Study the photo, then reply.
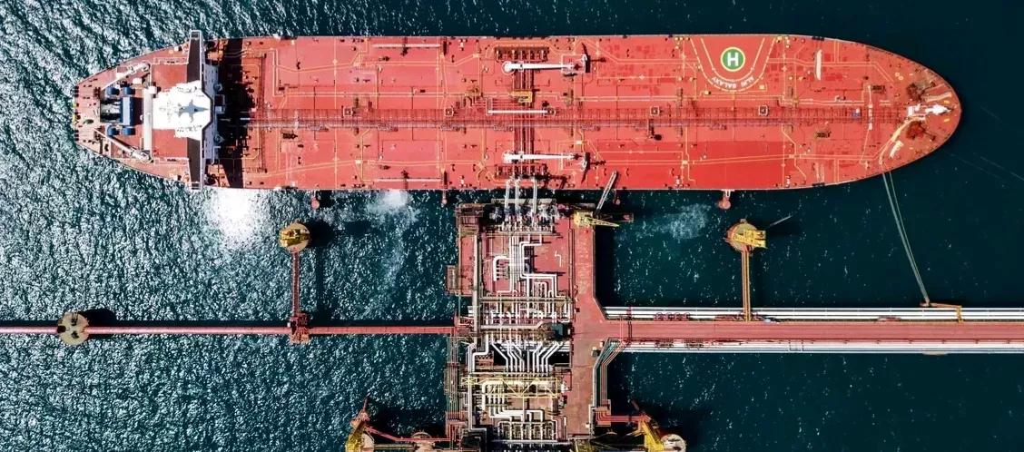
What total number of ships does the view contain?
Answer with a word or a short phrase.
1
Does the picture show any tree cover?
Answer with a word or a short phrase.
No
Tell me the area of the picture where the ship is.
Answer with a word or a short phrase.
top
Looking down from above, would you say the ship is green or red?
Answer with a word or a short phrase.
red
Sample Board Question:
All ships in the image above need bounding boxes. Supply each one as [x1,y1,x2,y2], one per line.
[75,30,961,196]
